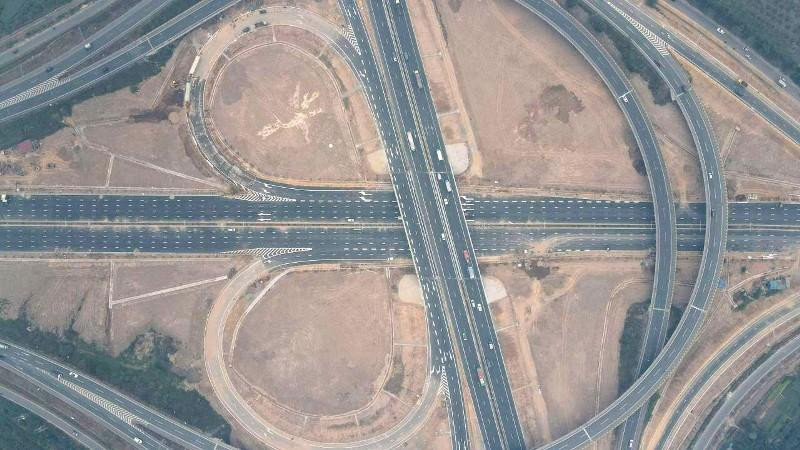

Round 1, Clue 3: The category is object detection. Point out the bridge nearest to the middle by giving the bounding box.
[387,170,483,280]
